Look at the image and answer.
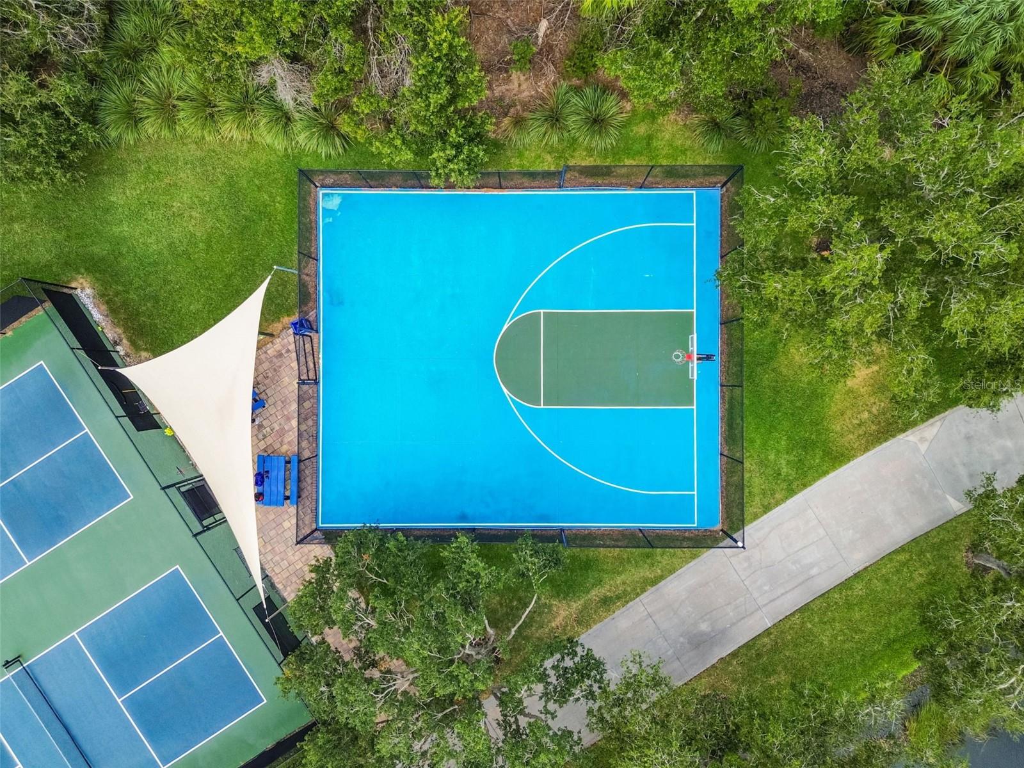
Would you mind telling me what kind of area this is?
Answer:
sports ground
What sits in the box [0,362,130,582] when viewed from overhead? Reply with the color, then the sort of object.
blue sports court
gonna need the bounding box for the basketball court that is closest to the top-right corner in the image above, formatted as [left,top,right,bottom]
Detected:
[318,187,721,530]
